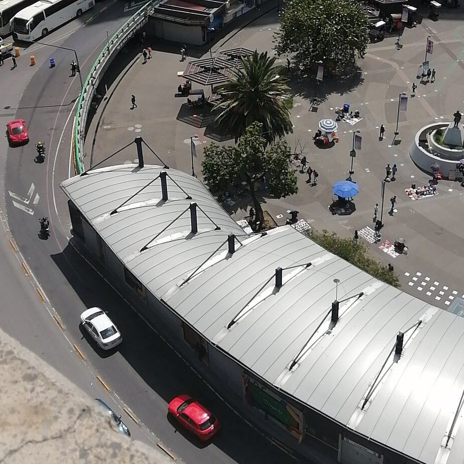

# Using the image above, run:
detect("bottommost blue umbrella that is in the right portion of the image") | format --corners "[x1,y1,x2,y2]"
[328,179,362,201]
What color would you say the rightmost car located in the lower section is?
red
